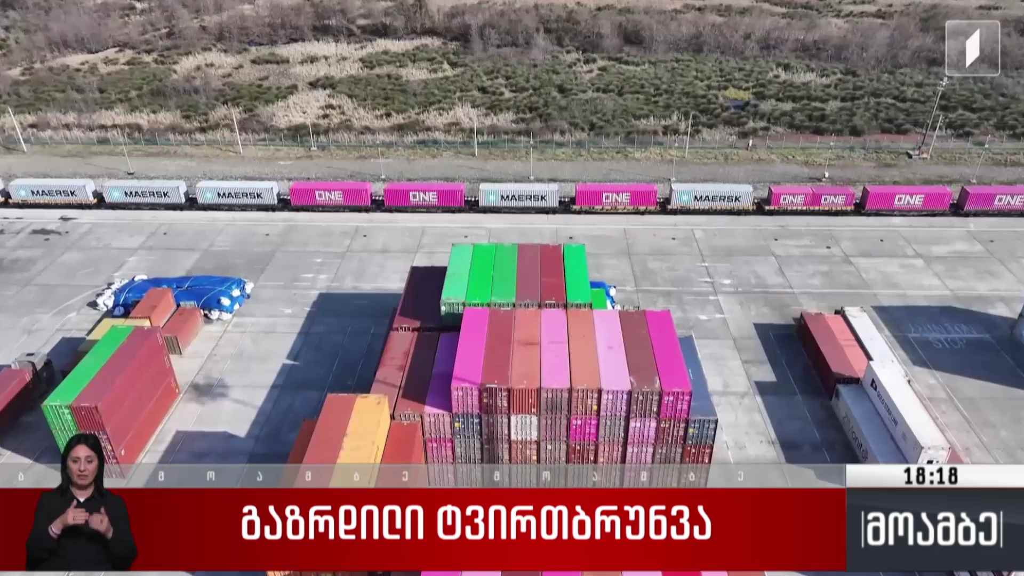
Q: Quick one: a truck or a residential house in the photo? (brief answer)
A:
truck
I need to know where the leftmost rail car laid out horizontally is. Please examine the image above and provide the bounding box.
[9,195,106,209]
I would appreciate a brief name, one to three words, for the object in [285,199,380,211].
rail car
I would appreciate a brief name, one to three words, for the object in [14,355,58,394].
truck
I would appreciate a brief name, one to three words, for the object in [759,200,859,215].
rail car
